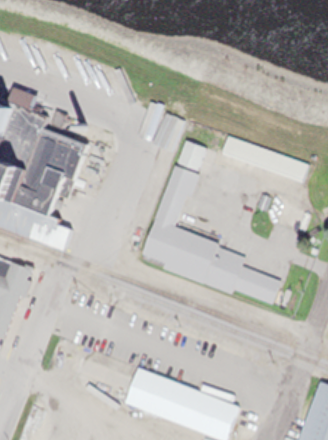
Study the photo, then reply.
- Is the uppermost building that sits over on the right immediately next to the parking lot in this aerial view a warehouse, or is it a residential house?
warehouse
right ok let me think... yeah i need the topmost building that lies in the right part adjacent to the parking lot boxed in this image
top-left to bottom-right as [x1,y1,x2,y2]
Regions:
[144,164,284,303]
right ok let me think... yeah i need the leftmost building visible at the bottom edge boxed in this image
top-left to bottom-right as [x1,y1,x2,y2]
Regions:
[126,368,240,440]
